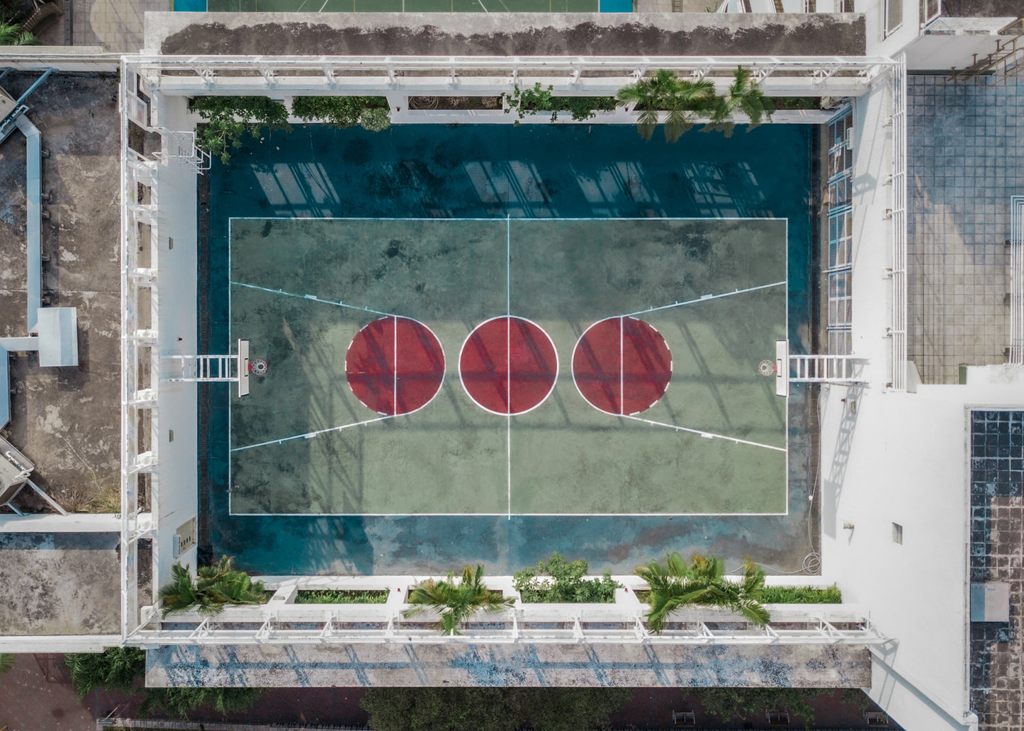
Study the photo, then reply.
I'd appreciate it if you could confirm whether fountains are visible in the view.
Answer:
No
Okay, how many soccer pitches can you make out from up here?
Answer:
0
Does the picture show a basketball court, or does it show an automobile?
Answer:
basketball court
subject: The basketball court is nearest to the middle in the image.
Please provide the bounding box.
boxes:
[198,117,821,575]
